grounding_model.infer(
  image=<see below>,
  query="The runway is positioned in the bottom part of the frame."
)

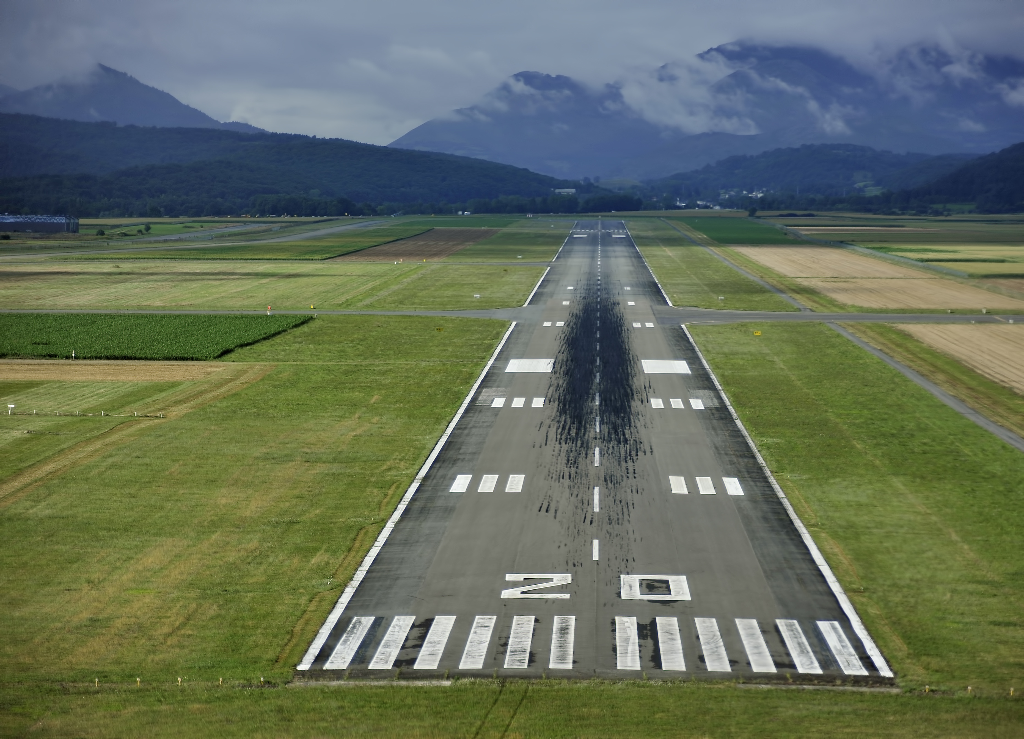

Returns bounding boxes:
[285,220,905,691]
